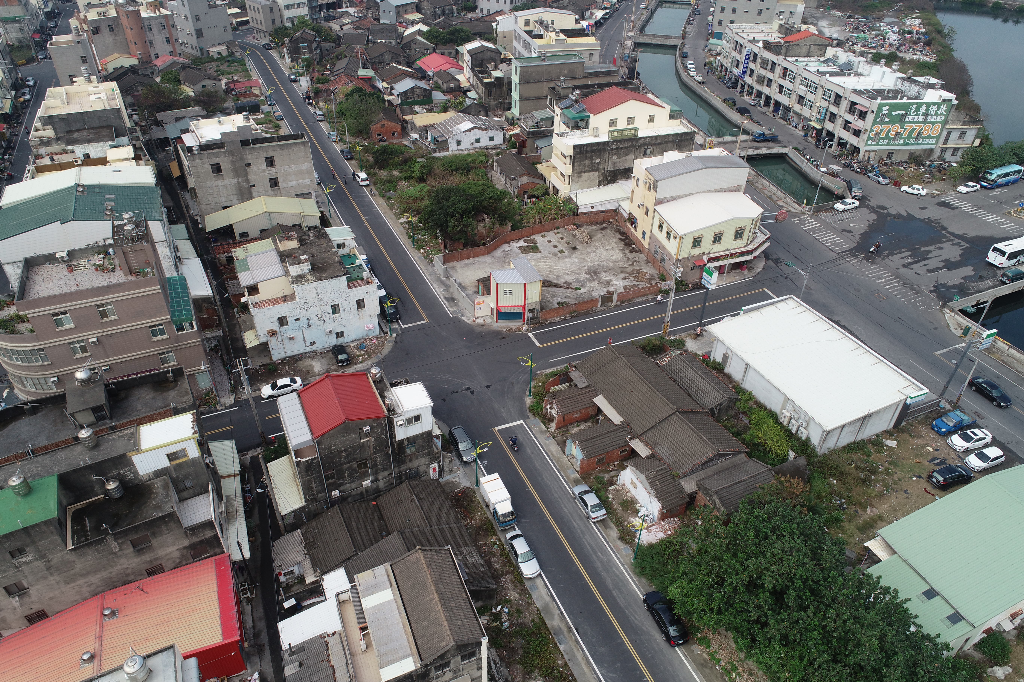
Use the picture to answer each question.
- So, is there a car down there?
Yes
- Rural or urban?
urban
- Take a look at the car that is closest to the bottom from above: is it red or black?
black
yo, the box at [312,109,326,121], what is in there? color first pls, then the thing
gray vehicle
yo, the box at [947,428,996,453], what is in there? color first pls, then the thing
white car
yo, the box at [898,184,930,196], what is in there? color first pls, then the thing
white vehicle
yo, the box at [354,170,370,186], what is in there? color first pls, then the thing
white car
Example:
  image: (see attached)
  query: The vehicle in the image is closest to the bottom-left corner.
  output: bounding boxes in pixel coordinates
[259,377,304,402]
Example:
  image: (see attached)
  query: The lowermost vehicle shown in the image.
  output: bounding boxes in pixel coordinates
[643,592,689,647]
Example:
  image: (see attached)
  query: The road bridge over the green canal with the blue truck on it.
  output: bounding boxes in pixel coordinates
[704,131,790,159]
